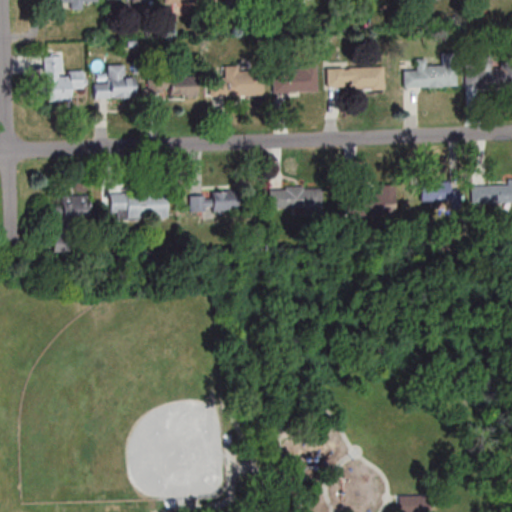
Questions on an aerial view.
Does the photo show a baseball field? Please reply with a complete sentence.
Yes, the photo shows a baseball field.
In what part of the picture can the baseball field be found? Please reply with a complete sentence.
The baseball field sits in the bottom left section of the image.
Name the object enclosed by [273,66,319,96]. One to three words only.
house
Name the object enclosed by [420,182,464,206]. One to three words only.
house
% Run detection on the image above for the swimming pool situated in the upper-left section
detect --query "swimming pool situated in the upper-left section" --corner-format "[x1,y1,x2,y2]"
[88,58,105,74]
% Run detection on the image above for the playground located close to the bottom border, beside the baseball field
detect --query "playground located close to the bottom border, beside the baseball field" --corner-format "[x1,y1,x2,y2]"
[278,429,385,512]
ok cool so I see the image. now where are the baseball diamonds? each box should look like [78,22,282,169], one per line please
[18,301,224,505]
